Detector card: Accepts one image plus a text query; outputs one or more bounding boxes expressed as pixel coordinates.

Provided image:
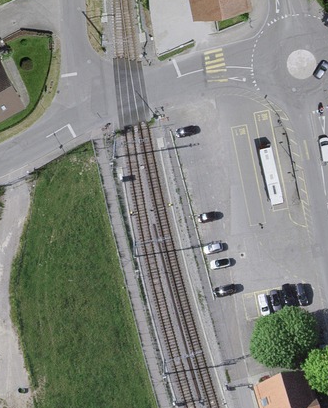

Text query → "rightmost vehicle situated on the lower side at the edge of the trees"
[296,282,308,305]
